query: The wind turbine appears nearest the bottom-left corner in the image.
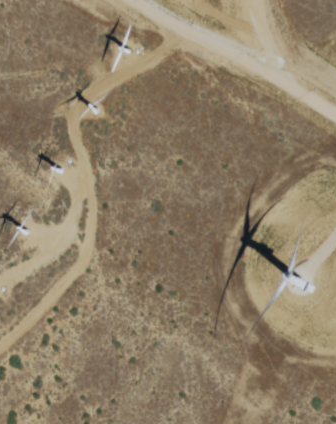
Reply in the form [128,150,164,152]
[8,207,30,248]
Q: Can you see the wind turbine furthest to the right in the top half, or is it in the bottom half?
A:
bottom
